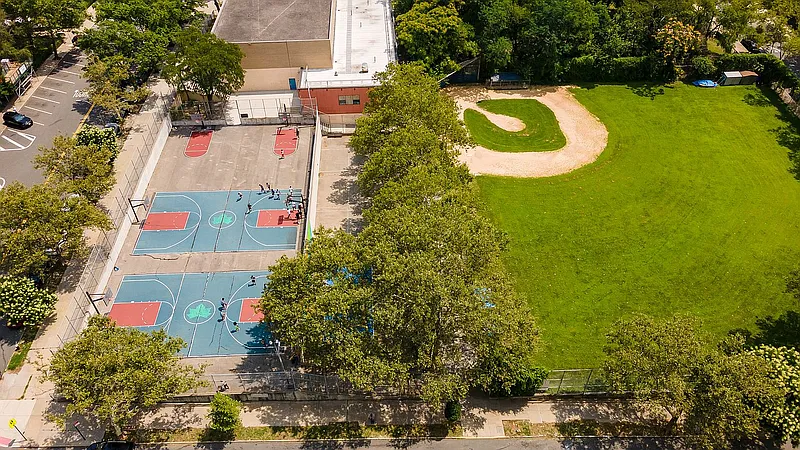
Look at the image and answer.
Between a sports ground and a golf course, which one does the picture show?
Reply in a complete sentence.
What you see here is a sports ground.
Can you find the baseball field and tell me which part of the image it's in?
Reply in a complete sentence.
The baseball field appears toward the right of the photo.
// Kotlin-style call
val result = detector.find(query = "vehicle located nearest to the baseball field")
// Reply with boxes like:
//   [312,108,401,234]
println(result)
[740,40,760,52]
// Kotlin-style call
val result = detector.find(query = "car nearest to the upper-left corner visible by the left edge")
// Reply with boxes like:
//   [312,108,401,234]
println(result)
[2,113,29,129]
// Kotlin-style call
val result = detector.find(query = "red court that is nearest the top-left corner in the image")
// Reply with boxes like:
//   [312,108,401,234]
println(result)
[184,130,214,159]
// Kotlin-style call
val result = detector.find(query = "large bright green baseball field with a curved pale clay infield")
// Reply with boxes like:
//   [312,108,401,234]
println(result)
[433,80,800,390]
